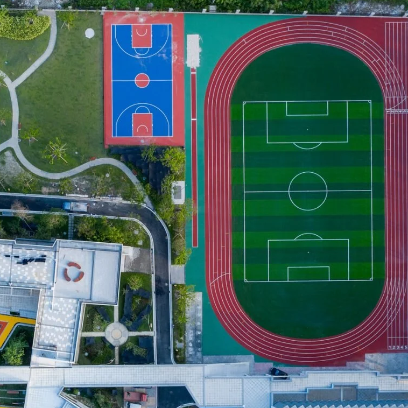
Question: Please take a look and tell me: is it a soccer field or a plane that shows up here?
soccer field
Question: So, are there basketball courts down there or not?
Yes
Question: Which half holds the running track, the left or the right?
right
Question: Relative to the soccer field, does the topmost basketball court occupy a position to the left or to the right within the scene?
on its left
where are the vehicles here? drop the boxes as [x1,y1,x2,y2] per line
[270,366,290,379]
[64,200,88,211]
[126,403,142,408]
[124,392,149,404]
